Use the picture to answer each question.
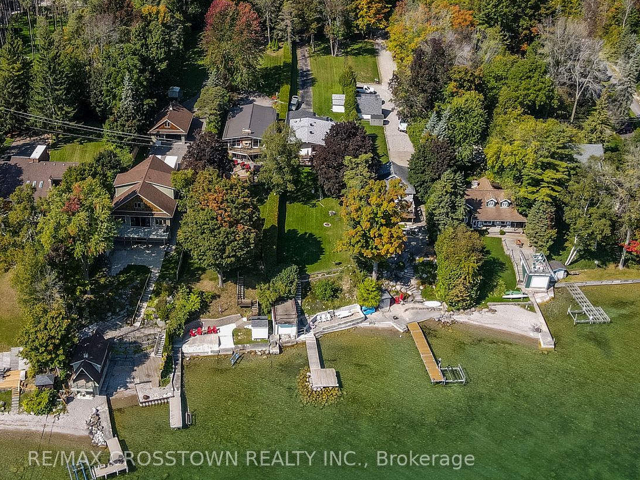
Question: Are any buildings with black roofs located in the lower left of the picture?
Yes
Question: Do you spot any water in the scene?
Yes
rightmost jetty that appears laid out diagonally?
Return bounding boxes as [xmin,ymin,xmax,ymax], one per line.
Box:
[566,280,612,328]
